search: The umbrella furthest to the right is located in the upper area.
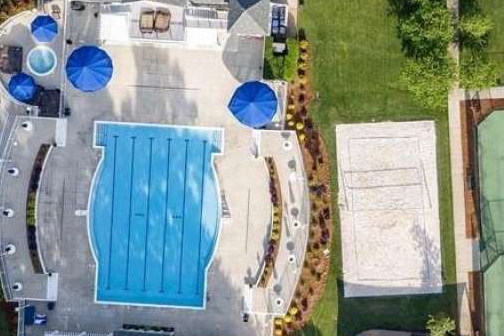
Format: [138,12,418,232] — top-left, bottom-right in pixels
[230,82,277,128]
